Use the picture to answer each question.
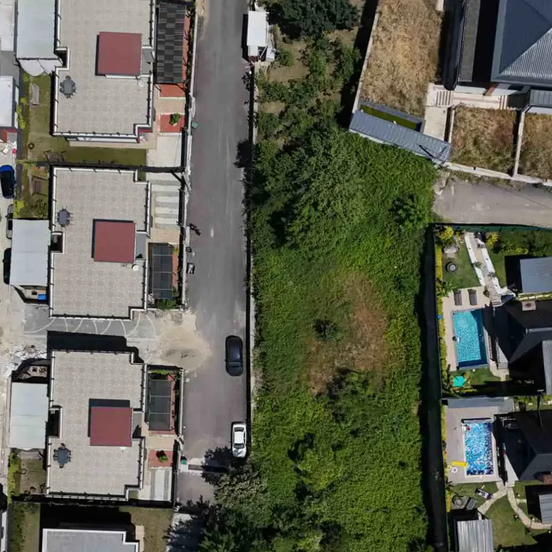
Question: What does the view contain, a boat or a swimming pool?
swimming pool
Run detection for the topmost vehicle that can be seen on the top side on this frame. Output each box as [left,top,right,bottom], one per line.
[0,164,18,200]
